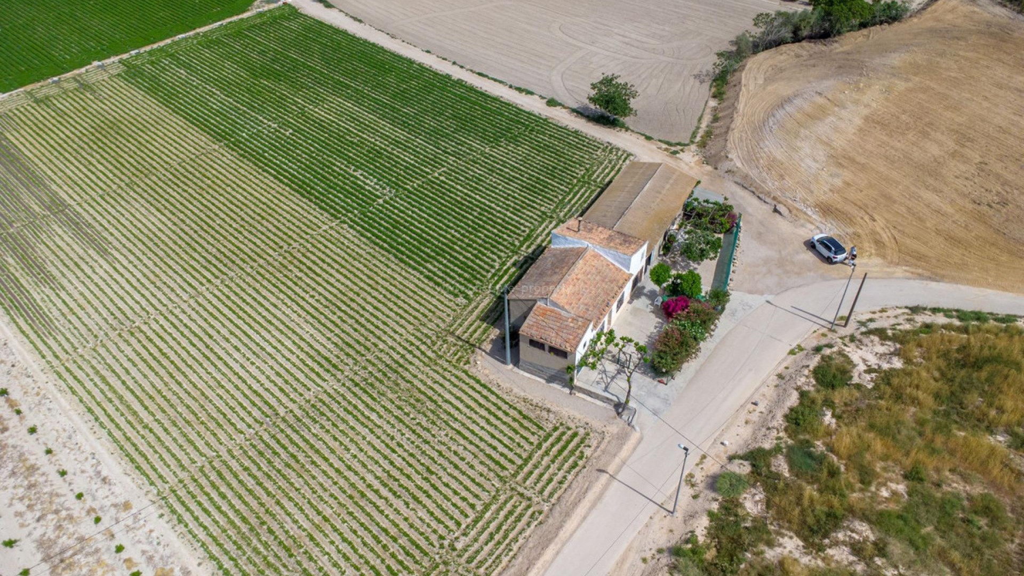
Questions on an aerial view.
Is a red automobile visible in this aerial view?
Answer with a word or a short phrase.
No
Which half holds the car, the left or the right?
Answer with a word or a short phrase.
right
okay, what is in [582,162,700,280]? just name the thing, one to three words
barn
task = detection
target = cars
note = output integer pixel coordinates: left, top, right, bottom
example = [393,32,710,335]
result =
[810,235,850,264]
